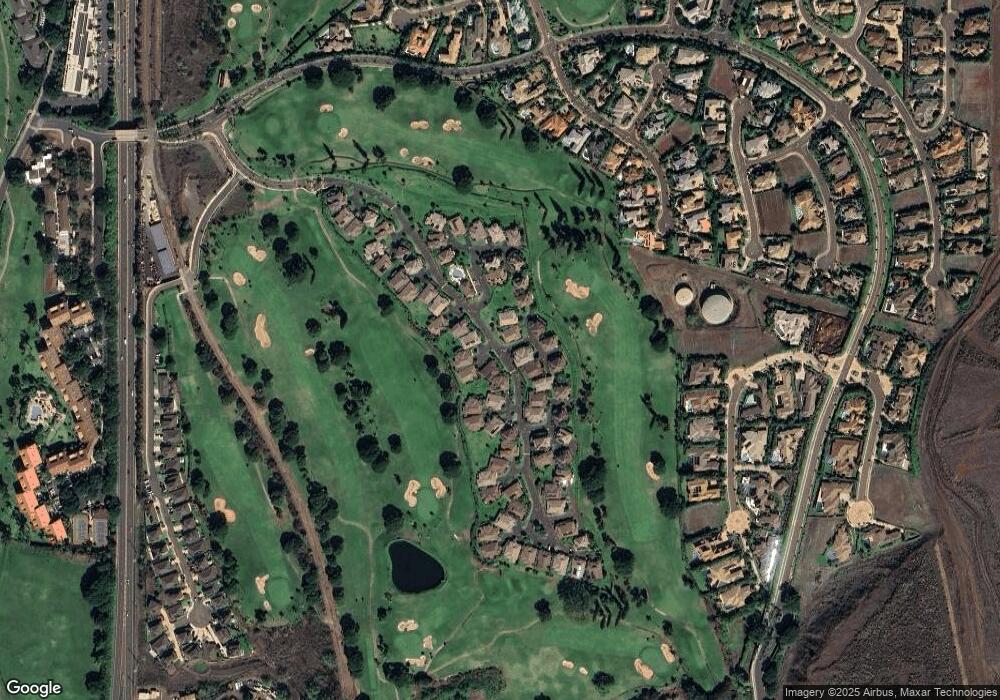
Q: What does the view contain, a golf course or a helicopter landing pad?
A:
golf course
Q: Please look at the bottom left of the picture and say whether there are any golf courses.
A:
Yes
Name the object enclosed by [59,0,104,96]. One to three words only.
building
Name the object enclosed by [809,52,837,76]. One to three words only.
house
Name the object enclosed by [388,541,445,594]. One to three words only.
pond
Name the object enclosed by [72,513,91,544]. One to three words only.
tennis court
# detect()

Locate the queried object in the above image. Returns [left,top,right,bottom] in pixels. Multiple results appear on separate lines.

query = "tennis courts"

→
[91,515,108,544]
[72,513,91,544]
